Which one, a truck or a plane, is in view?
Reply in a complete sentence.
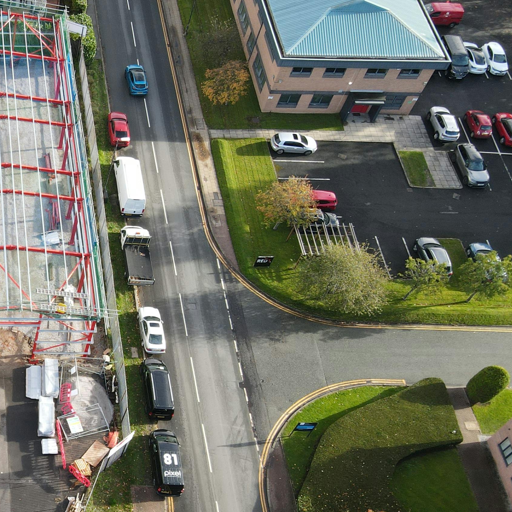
The one in the frame is a truck.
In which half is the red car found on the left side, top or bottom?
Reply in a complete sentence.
The top half of the photo is where the red car found on the left side is.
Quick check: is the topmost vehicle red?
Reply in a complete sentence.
Yes, red is the color of the topmost vehicle.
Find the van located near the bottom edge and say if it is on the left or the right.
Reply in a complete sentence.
The van located near the bottom edge sits on the left side.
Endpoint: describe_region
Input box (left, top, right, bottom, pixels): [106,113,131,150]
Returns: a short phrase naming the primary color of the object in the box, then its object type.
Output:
red car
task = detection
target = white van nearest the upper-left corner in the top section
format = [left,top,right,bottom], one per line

[114,165,149,225]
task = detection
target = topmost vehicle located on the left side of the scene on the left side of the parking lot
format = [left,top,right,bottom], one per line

[125,66,149,99]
